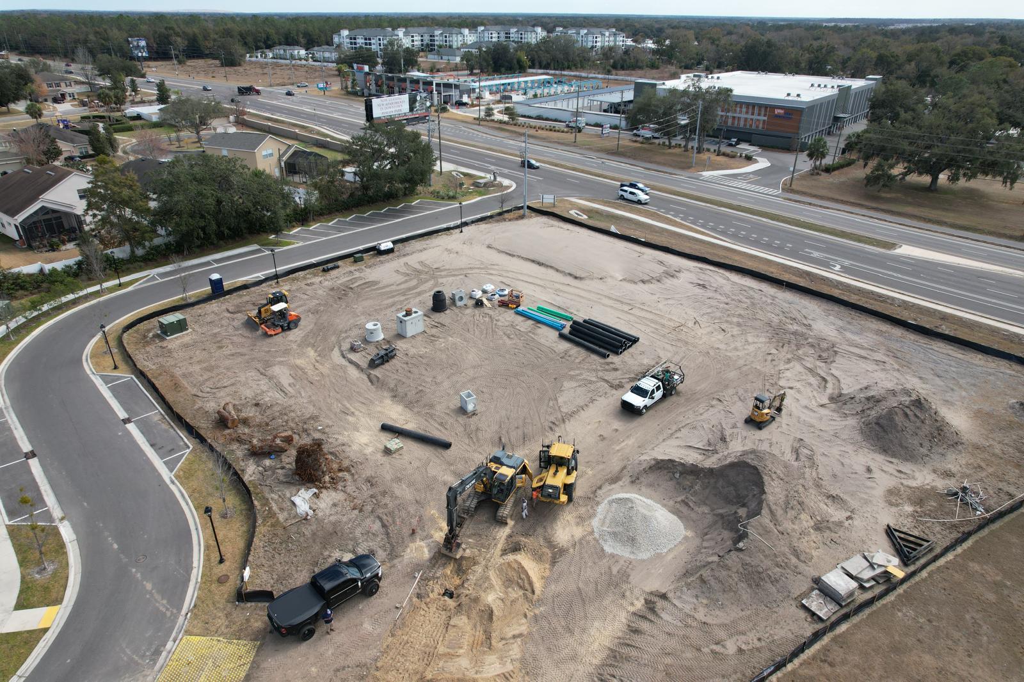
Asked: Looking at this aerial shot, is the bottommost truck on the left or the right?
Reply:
left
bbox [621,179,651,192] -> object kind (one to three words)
vehicle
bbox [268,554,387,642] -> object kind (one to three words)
truck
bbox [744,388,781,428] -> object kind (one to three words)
work vehicle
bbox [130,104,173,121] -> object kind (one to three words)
shed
